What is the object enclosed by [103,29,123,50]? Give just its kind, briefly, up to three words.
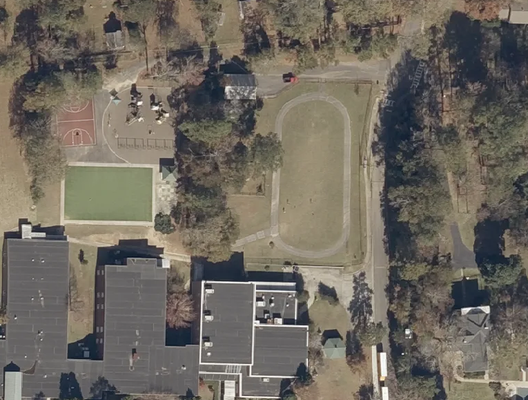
house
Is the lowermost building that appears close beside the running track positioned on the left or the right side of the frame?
left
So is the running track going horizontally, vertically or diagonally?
vertically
